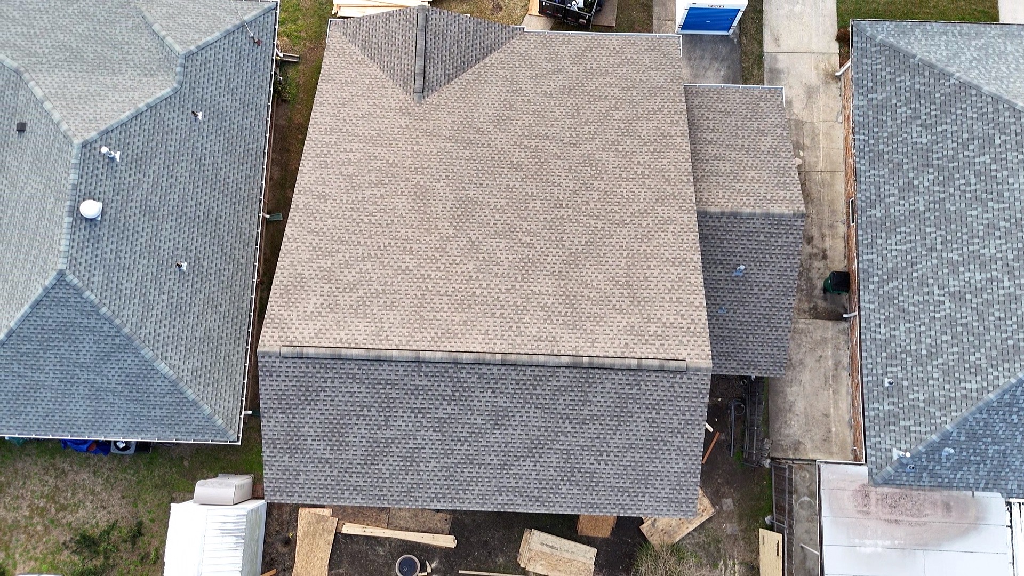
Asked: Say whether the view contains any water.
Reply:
No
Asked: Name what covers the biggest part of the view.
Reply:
buildings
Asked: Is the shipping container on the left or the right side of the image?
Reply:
right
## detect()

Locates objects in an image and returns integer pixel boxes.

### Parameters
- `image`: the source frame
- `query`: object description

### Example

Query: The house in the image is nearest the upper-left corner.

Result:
[0,0,286,447]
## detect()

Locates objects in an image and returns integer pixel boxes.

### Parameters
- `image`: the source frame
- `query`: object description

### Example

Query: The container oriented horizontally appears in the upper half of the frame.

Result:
[675,0,750,34]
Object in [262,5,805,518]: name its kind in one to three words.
house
